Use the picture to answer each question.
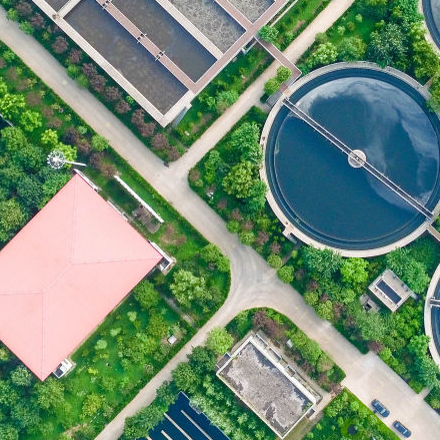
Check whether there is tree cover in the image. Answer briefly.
Yes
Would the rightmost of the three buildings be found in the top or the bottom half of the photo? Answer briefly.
bottom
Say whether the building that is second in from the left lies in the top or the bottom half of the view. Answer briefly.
bottom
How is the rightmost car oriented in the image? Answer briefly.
diagonally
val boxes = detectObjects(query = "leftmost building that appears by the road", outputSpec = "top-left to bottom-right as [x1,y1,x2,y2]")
[0,169,177,380]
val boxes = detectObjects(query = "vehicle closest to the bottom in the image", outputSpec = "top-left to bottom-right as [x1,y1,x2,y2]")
[390,418,413,439]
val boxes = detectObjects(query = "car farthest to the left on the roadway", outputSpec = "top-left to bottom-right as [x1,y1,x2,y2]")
[369,397,390,419]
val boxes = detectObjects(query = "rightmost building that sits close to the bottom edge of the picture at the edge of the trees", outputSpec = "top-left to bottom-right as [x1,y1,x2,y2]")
[216,329,327,439]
